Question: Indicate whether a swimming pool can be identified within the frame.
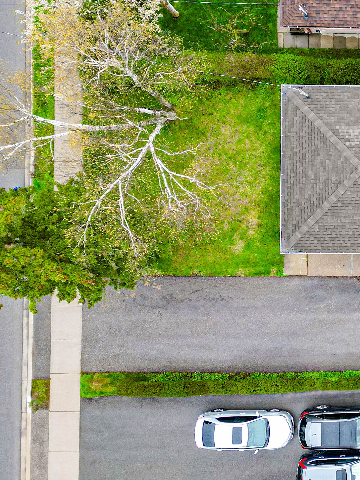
No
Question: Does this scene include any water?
No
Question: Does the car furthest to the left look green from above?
No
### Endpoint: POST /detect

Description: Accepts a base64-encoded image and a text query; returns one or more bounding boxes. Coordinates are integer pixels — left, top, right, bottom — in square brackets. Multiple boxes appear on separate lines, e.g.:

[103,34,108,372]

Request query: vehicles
[297,448,360,480]
[299,402,360,449]
[195,406,296,457]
